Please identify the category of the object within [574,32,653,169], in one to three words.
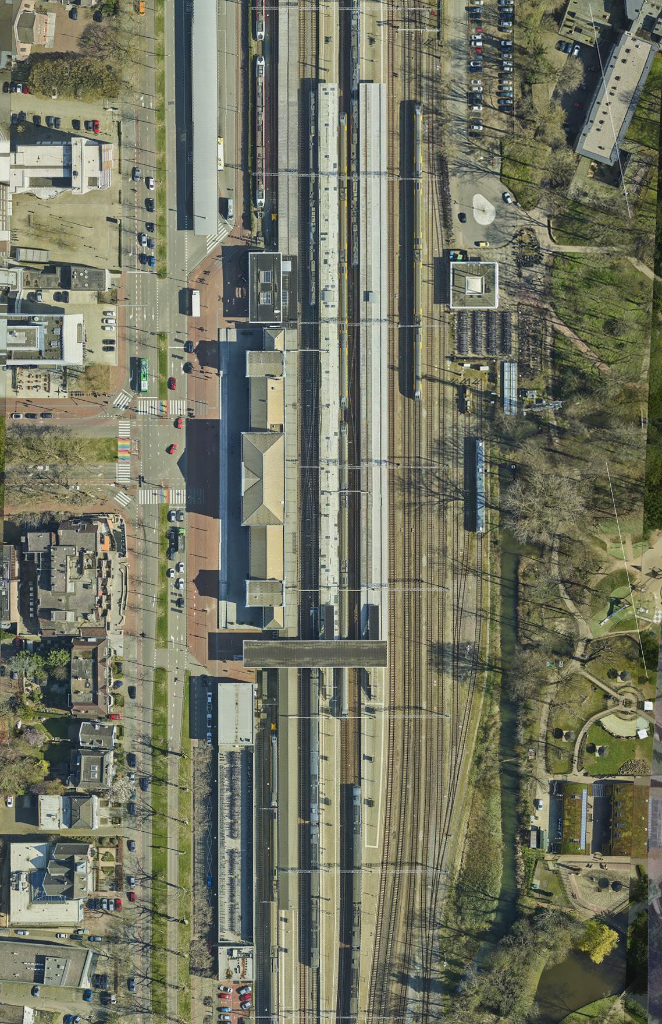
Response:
building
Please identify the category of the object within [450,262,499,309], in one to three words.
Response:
building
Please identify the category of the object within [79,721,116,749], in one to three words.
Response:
house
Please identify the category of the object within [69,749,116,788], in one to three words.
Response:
house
